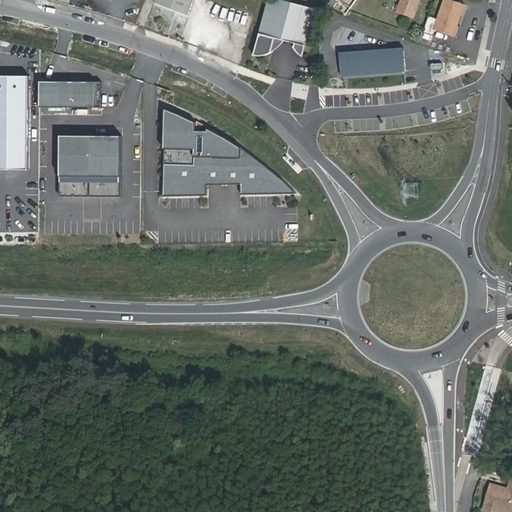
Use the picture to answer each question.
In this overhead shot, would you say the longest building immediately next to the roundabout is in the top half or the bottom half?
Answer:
top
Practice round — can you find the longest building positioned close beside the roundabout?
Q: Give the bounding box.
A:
[162,110,300,206]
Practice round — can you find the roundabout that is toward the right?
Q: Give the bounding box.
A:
[262,183,512,425]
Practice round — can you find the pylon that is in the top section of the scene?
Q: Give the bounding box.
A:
[401,176,420,203]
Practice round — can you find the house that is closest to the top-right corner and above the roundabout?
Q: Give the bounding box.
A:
[433,0,469,38]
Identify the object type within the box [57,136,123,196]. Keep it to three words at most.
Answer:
building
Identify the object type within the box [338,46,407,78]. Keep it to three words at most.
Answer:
building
